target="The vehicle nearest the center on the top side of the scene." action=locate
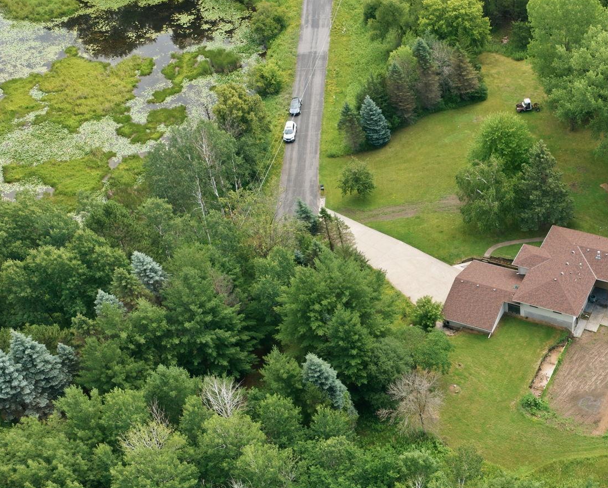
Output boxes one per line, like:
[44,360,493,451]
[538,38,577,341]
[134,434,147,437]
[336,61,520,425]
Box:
[281,121,297,141]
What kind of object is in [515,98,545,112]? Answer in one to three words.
vehicle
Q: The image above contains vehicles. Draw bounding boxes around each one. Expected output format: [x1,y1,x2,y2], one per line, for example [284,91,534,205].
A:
[288,96,302,114]
[515,98,545,112]
[281,121,297,141]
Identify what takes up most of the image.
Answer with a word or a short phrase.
trees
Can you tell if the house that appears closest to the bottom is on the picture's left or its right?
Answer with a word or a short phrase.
right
